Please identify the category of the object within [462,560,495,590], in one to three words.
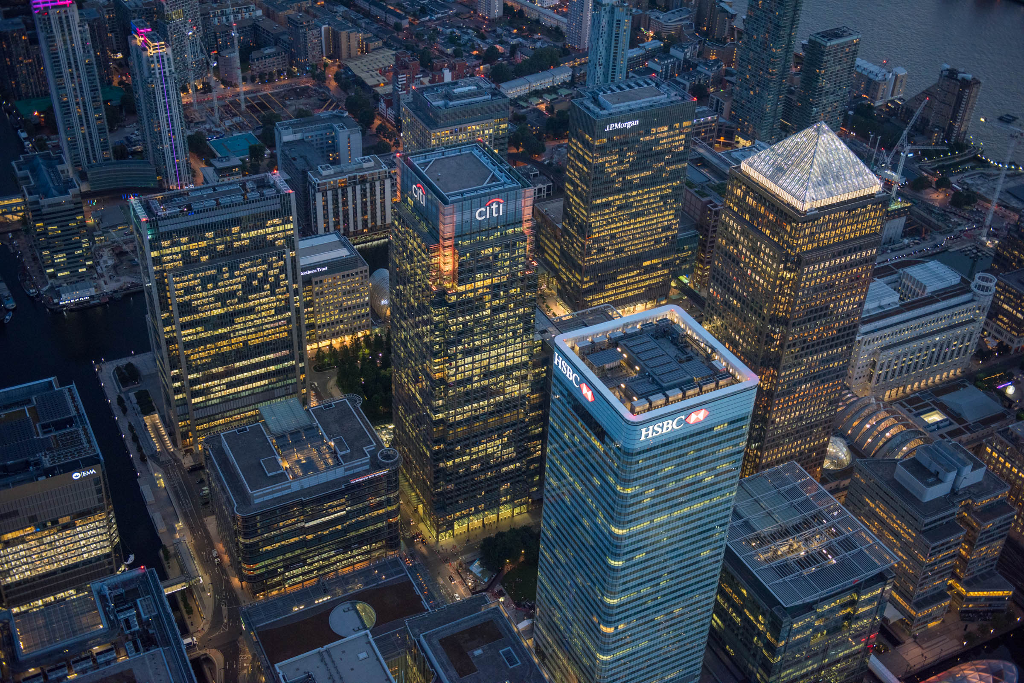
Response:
tent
